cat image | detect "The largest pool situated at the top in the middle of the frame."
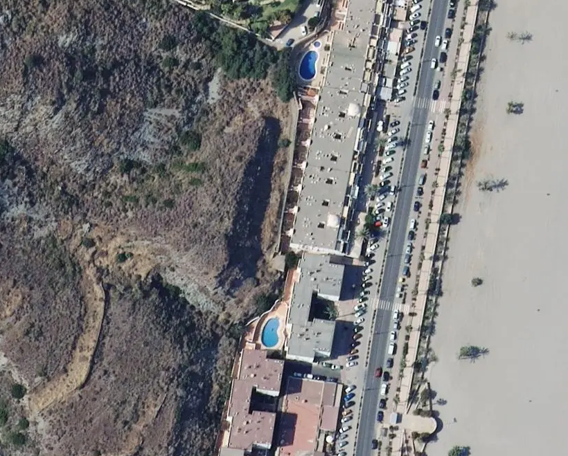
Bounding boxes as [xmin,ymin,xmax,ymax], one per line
[299,50,319,80]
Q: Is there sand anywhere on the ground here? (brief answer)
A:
Yes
